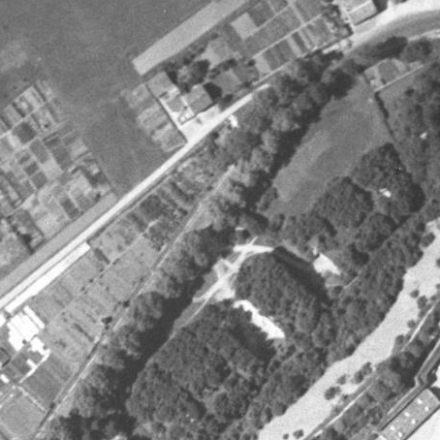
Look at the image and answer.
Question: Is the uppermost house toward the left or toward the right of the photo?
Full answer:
The uppermost house sits on the right side.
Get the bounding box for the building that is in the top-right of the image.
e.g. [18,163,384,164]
[340,0,377,25]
